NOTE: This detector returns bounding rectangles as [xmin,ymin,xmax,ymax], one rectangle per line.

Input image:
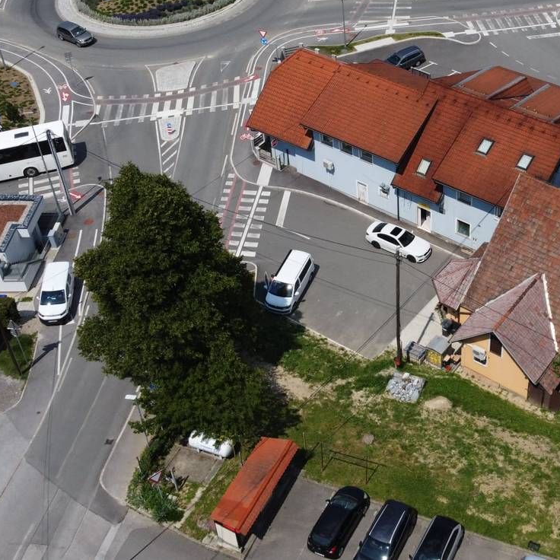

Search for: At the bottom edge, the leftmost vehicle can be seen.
[304,487,373,560]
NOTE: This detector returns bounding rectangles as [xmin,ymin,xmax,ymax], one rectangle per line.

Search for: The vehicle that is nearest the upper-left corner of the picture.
[57,21,96,51]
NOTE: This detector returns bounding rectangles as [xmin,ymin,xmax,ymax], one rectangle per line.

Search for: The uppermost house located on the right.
[246,49,560,251]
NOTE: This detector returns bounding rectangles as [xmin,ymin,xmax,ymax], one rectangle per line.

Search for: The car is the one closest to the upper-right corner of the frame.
[386,45,427,71]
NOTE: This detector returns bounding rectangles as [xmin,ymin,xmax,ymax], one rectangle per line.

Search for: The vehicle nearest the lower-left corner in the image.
[40,262,77,323]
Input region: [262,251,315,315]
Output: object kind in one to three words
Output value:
van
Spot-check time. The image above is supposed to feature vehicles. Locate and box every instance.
[304,487,373,560]
[262,251,315,315]
[365,224,430,259]
[40,262,77,323]
[415,510,477,560]
[524,545,560,560]
[57,21,96,51]
[0,119,70,175]
[353,496,421,560]
[386,45,427,71]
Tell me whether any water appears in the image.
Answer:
No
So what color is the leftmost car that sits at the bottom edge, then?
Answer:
black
